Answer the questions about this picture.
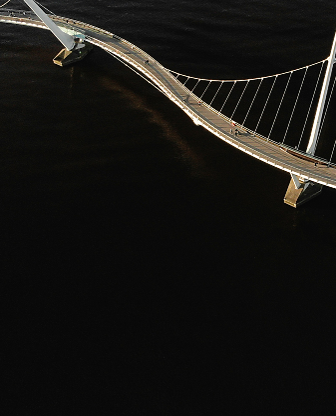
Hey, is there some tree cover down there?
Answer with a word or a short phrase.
No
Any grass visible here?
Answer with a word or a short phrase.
No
